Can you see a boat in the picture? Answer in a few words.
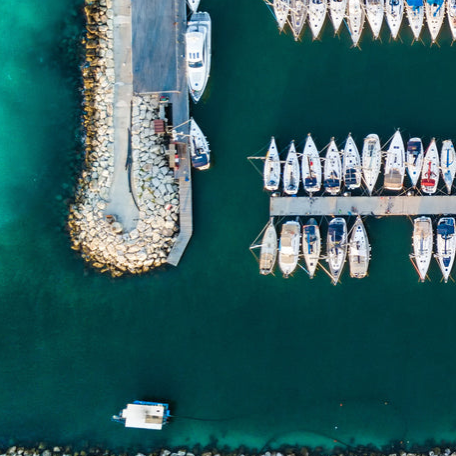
Yes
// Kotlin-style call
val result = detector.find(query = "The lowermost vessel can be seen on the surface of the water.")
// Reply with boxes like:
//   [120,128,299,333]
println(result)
[114,403,172,432]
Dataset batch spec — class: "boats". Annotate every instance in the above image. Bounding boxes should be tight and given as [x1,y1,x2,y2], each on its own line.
[439,136,456,194]
[262,0,290,32]
[272,139,302,197]
[353,130,383,195]
[360,0,385,39]
[341,213,371,281]
[296,0,327,45]
[314,214,349,287]
[422,0,444,49]
[184,9,211,102]
[289,214,323,283]
[320,0,347,38]
[420,133,441,195]
[249,131,283,197]
[288,128,327,197]
[443,0,456,43]
[407,213,436,284]
[315,136,343,195]
[433,213,456,289]
[335,0,365,46]
[404,0,425,45]
[384,122,406,191]
[167,117,208,171]
[403,137,424,194]
[276,0,308,46]
[277,214,301,283]
[246,213,278,276]
[333,131,364,193]
[380,0,404,38]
